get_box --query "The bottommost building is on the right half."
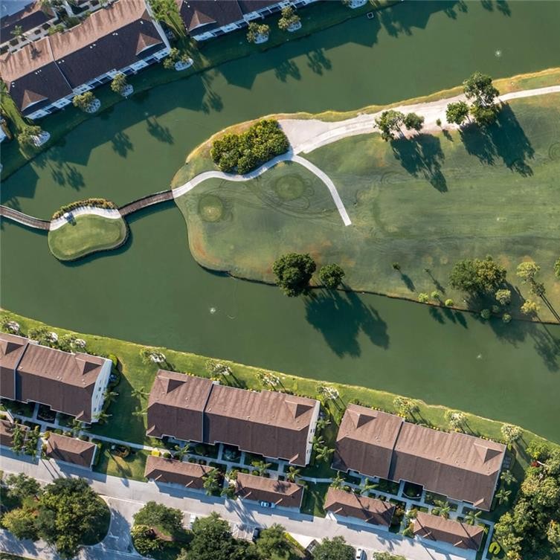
[412,511,486,552]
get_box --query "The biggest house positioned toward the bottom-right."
[329,404,507,515]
